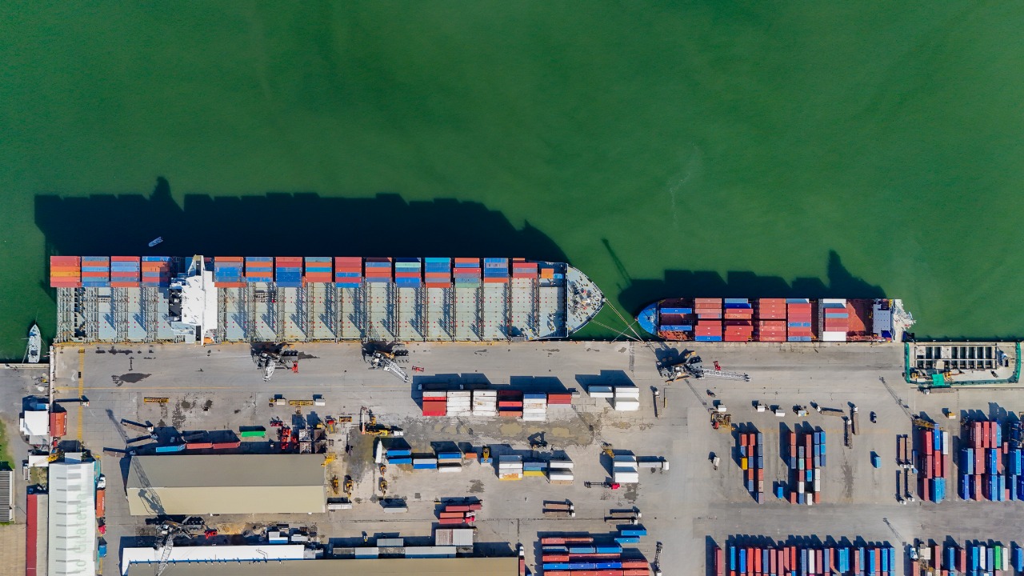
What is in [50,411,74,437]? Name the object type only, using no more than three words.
building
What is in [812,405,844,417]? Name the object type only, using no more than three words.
vehicle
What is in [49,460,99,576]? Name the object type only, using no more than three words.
building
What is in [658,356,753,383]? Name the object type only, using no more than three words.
crane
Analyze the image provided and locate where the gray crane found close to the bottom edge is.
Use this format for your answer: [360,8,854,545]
[147,515,199,576]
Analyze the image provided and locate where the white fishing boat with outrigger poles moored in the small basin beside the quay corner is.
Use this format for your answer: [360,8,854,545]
[19,310,52,364]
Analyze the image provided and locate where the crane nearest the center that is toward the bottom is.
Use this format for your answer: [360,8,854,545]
[362,344,411,385]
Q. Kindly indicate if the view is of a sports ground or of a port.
port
